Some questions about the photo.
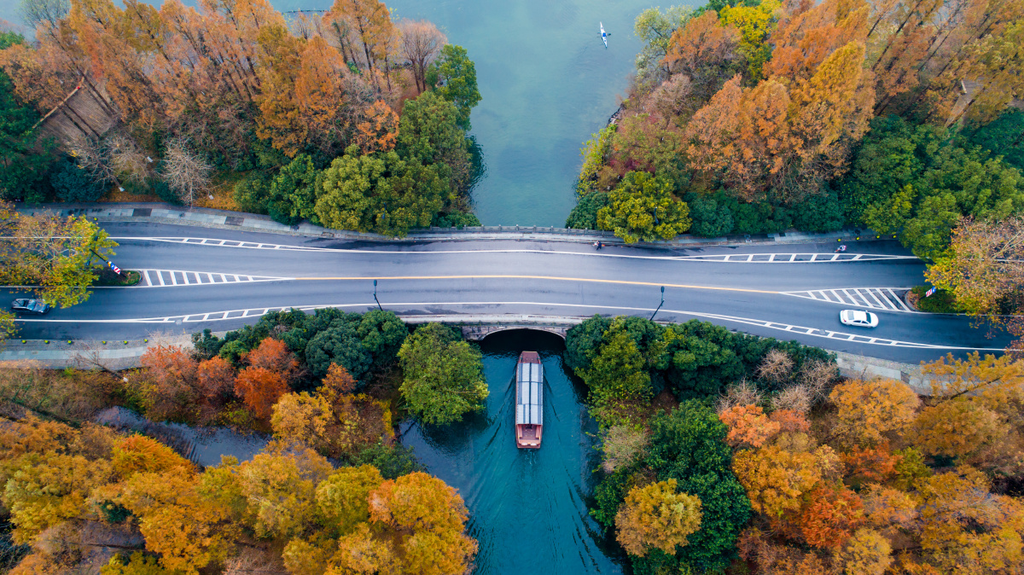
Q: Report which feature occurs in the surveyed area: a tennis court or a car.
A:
car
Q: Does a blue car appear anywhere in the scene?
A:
Yes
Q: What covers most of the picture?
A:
trees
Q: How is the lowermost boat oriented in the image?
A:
vertically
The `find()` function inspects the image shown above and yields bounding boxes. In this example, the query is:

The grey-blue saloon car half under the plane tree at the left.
[10,297,51,315]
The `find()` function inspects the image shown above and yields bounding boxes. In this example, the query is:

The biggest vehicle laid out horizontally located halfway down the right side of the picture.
[839,310,878,327]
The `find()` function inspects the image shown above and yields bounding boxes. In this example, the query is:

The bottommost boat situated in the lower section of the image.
[516,351,542,450]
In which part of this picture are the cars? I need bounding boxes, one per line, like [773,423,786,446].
[10,297,51,315]
[839,310,878,327]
